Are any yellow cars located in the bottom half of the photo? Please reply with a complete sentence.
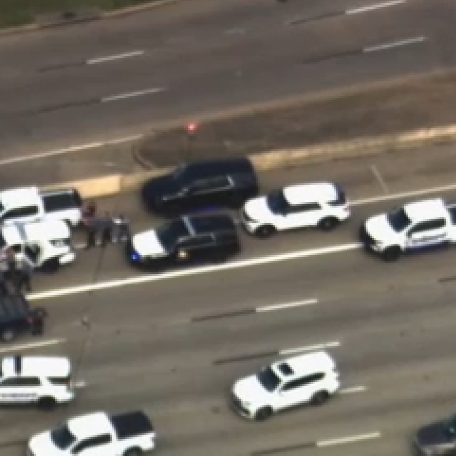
No, there is no yellow car in the bottom half of the photo.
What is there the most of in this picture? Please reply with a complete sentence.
What you mostly see from above here is paved ground.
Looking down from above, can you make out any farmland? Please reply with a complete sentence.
No, the scene doesn't show any farmland.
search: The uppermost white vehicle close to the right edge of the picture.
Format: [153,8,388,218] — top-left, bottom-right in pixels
[359,200,456,263]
